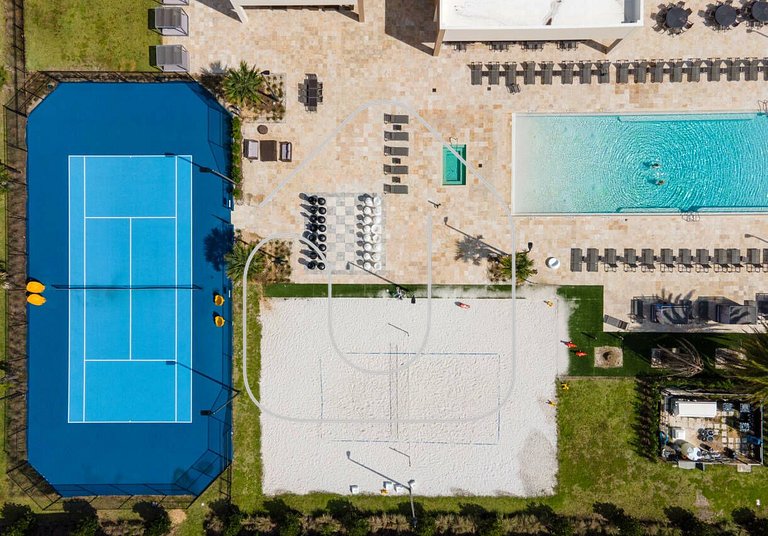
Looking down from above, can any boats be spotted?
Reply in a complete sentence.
No, the picture doesn't show any boat.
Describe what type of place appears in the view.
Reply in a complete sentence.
What you see here is a sports ground.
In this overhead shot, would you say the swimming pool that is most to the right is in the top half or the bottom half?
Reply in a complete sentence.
Seen from above, the swimming pool that is most to the right lies in the top half of the view.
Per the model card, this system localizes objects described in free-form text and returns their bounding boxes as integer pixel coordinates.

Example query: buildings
[434,0,646,55]
[230,0,364,22]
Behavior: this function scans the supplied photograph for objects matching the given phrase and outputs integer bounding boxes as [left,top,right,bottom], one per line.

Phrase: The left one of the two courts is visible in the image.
[26,82,232,496]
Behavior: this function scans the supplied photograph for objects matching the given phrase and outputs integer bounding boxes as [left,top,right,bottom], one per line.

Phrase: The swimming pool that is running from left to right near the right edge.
[512,107,768,218]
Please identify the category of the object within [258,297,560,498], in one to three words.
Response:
sports court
